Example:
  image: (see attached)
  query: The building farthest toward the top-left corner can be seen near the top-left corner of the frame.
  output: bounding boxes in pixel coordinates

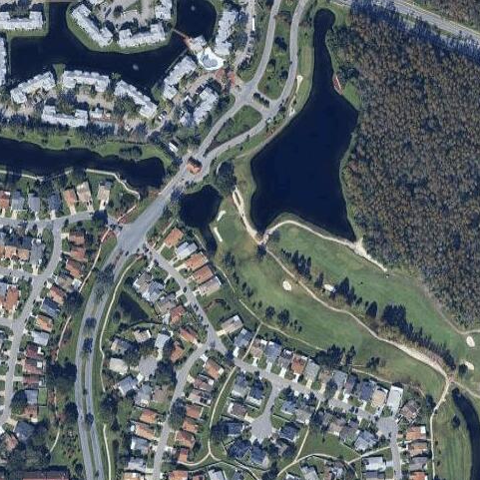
[0,12,43,28]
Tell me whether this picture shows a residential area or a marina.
residential area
